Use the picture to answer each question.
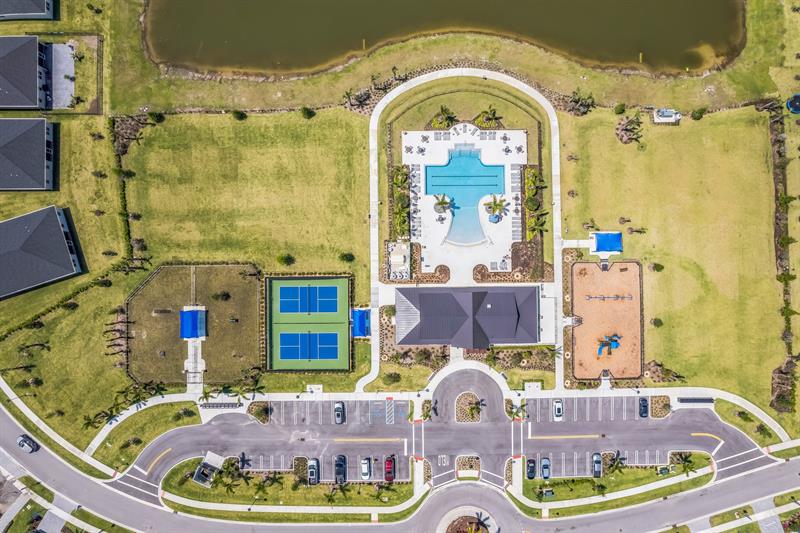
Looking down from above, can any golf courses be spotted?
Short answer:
No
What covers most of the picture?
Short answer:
grass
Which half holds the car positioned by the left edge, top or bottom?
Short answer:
bottom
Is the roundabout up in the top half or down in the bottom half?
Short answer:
bottom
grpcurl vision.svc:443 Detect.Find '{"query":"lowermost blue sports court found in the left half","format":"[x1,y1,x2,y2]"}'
[280,331,338,362]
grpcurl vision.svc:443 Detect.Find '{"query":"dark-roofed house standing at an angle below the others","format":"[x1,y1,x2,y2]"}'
[0,206,80,298]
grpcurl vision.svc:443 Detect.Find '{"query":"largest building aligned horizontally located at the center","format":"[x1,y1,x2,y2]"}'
[395,287,538,350]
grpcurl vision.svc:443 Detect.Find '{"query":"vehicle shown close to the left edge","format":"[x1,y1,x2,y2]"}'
[19,433,39,453]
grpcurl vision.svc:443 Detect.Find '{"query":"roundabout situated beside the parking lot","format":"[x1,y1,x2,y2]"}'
[411,481,523,533]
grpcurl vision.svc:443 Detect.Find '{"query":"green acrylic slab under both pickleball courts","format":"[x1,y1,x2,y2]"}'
[269,277,348,370]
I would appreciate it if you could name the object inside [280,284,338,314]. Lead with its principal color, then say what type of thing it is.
blue sports court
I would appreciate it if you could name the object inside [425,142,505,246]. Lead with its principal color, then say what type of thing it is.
blue swimming pool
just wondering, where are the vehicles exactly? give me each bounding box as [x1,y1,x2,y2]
[384,456,395,479]
[552,399,562,420]
[637,396,648,417]
[336,456,346,481]
[309,460,319,481]
[19,433,39,453]
[334,401,345,423]
[361,457,370,478]
[526,457,536,478]
[591,452,602,478]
